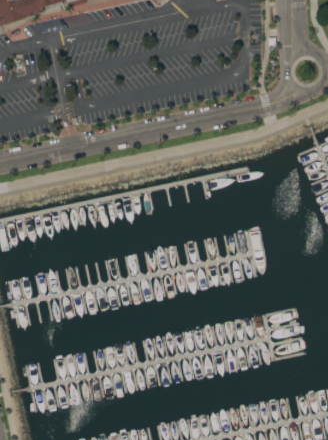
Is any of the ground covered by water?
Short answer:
Yes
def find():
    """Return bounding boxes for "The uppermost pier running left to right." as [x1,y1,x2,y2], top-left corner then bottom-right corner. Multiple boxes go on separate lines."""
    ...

[0,166,249,242]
